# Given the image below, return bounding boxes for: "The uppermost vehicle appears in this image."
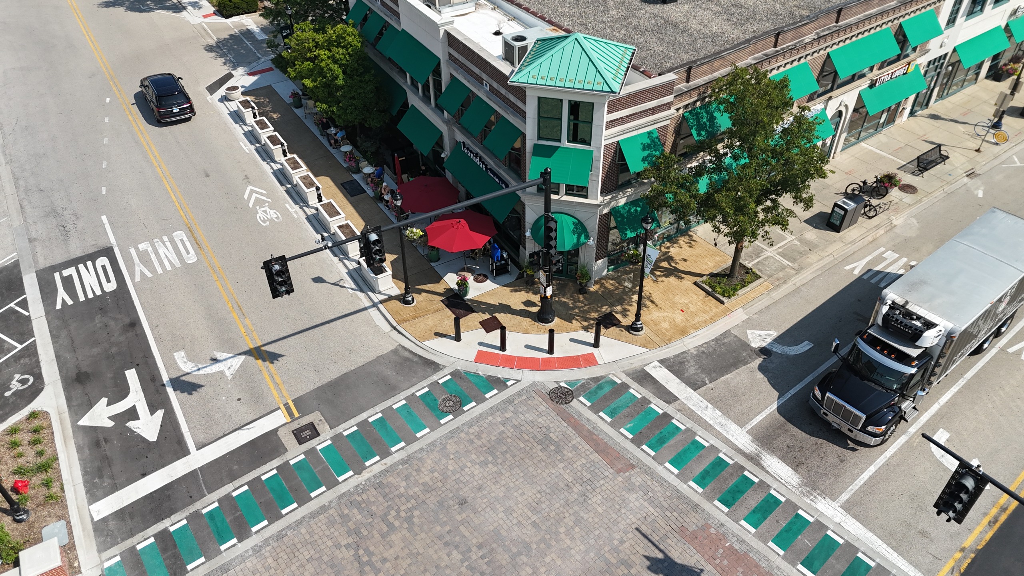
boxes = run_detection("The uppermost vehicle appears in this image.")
[143,82,194,125]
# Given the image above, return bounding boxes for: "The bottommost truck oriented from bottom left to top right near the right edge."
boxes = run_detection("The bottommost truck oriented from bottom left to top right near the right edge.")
[811,208,1024,442]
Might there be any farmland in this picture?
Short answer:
No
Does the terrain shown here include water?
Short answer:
No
